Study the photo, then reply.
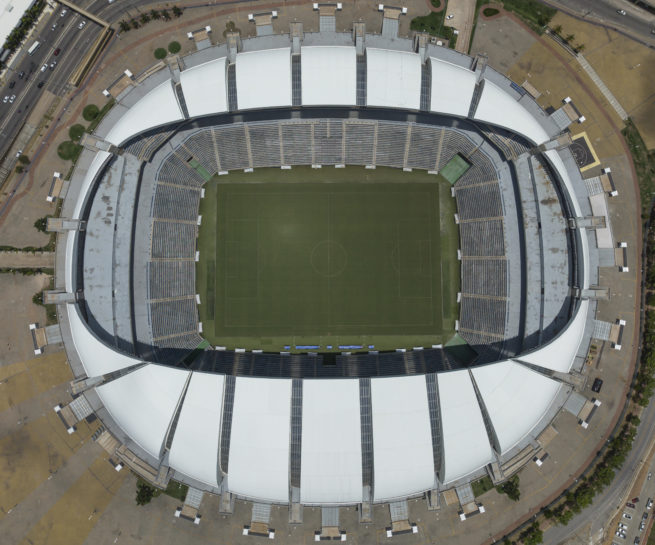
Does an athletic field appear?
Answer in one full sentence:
Yes, I can see an athletic field in this picture.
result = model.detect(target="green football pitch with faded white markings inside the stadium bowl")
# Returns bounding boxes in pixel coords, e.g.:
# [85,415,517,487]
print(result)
[196,165,461,353]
